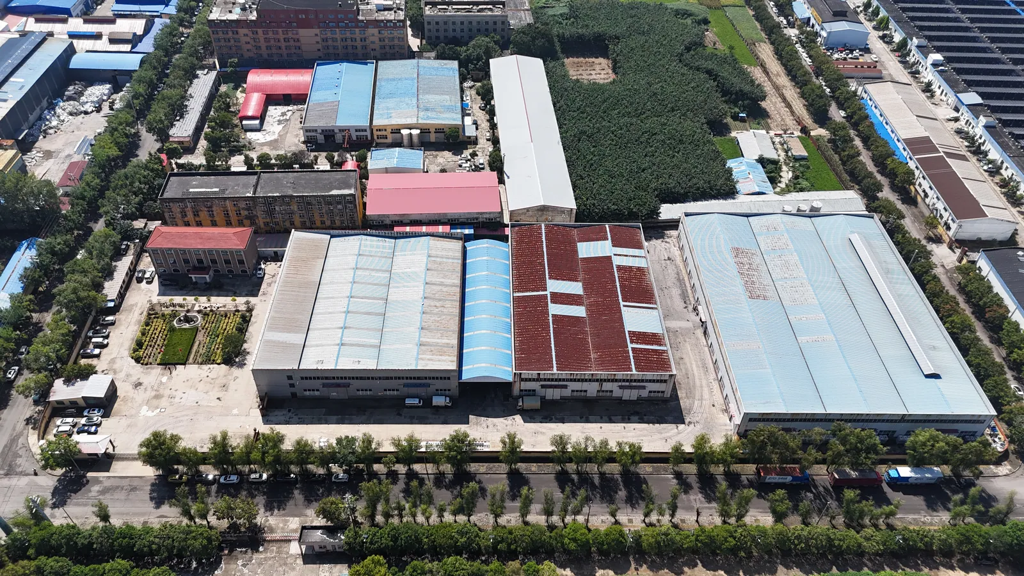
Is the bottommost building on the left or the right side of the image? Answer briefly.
left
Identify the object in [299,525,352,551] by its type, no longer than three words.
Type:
building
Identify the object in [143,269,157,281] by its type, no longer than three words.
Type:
vehicle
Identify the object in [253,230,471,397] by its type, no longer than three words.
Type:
shed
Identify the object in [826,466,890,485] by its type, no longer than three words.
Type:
vehicle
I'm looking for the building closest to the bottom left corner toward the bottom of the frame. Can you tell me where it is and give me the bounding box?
[64,434,116,458]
